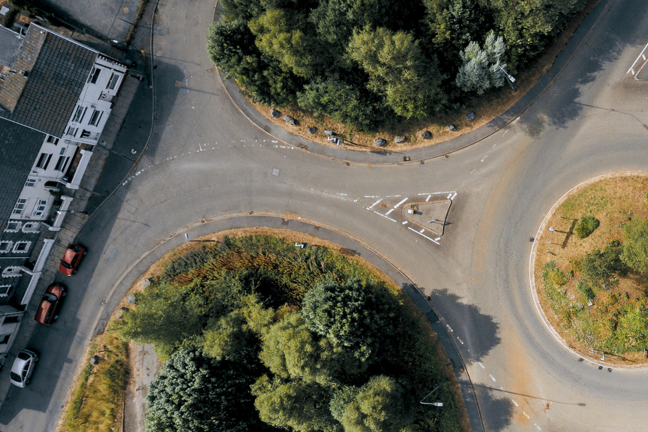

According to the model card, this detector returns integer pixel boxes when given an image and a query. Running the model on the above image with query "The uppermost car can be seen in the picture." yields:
[59,240,90,278]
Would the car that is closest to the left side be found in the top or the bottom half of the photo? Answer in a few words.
bottom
